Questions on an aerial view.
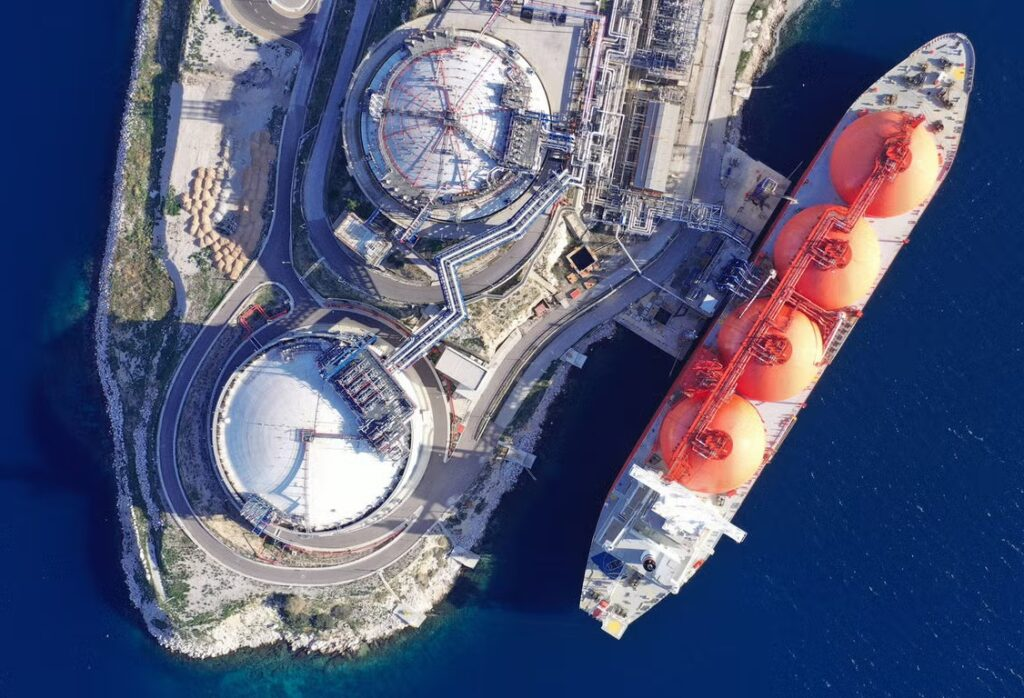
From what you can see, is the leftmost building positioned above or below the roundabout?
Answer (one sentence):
Looking at the scene, the leftmost building is located below the roundabout.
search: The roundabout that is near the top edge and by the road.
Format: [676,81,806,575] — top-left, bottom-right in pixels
[226,0,351,56]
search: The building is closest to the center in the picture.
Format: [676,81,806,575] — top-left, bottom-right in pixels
[434,345,489,391]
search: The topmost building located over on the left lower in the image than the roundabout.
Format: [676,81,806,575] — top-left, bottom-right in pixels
[332,211,394,266]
